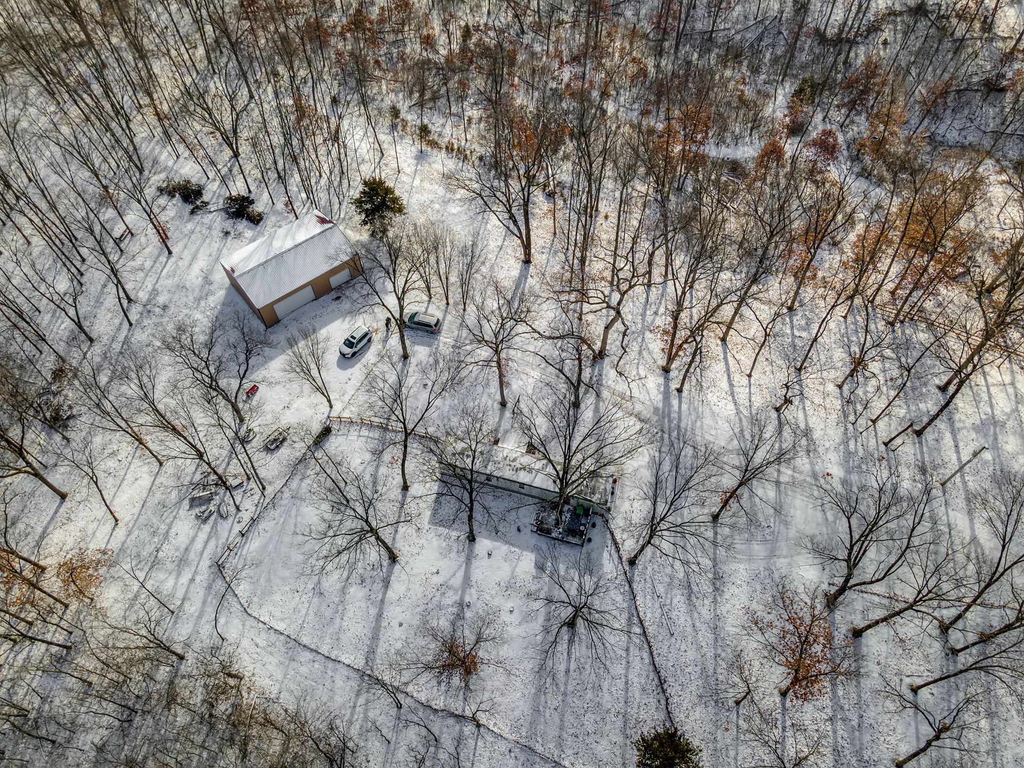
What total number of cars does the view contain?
two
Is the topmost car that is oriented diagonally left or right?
left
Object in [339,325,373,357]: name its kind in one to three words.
car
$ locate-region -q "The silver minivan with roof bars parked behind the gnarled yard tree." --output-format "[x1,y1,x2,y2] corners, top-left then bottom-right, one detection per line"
[401,311,440,333]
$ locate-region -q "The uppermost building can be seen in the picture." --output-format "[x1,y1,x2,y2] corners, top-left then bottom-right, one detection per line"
[213,213,364,328]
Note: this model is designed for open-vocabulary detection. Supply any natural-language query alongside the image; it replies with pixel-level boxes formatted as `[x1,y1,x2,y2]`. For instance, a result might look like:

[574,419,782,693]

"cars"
[339,325,373,357]
[401,311,440,333]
